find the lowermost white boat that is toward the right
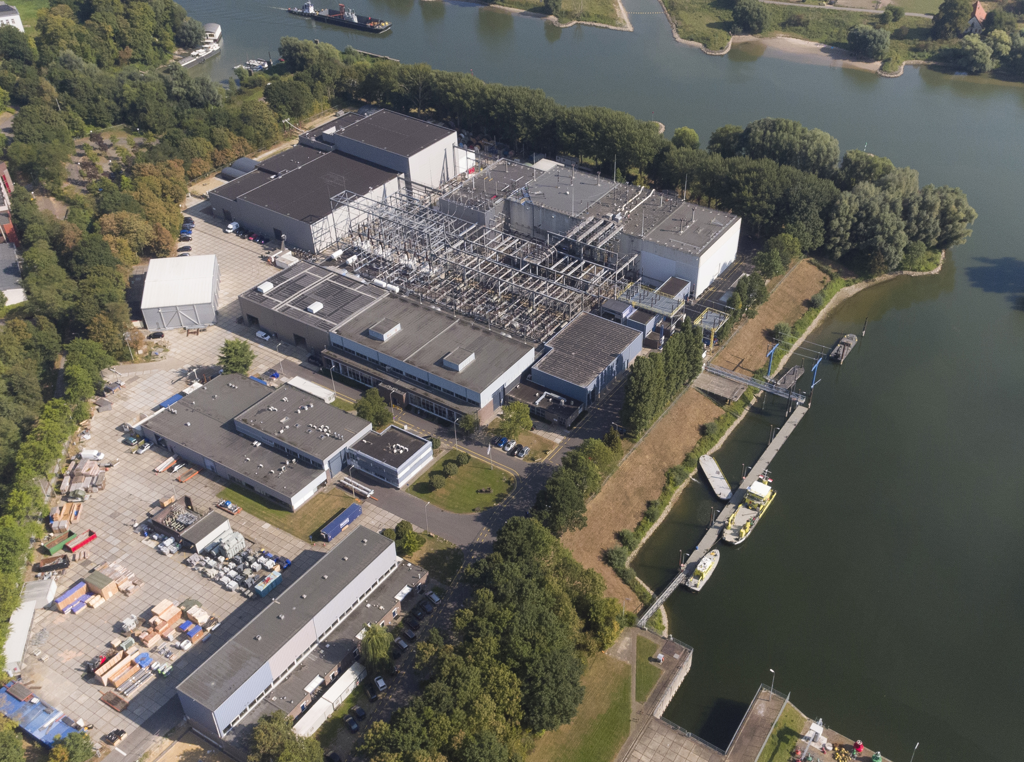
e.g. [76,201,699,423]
[684,549,719,596]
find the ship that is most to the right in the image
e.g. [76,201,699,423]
[828,333,858,363]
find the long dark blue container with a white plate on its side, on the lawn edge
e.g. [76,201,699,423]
[321,504,363,543]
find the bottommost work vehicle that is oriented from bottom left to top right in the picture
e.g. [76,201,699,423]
[90,658,105,677]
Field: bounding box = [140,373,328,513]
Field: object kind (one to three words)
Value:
building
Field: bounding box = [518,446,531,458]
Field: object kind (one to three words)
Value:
vehicle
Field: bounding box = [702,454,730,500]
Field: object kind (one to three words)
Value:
ship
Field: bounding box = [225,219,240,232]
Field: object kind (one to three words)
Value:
vehicle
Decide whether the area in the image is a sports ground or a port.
port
